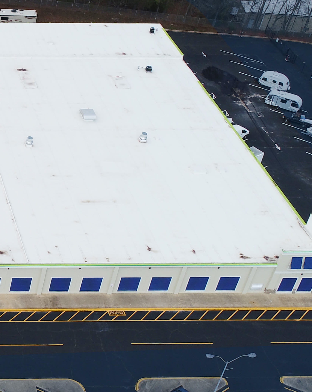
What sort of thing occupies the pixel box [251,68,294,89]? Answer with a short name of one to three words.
vehicle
